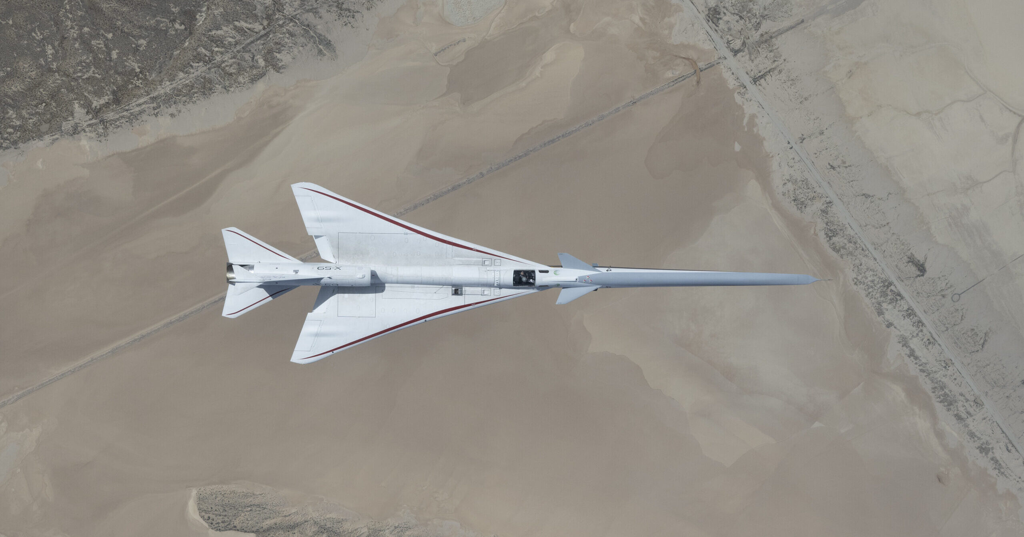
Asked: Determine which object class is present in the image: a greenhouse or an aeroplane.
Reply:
aeroplane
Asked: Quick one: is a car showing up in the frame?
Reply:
No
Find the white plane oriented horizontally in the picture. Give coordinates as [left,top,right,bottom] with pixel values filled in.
[222,181,820,364]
